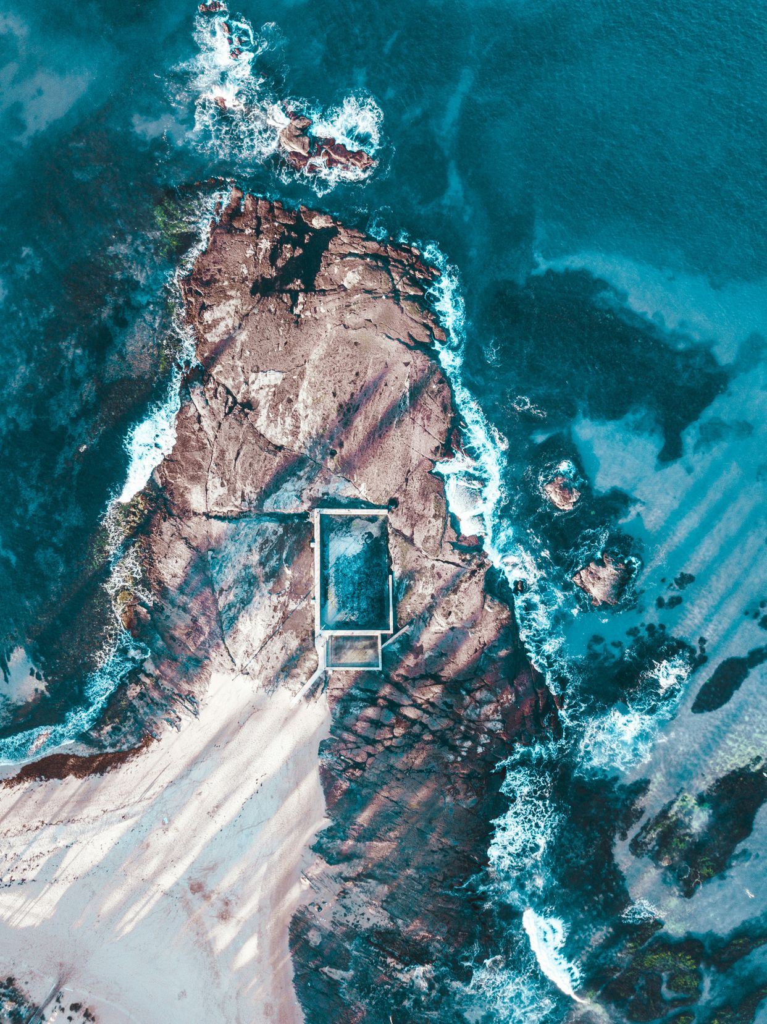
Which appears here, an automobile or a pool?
pool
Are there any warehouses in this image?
No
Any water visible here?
Yes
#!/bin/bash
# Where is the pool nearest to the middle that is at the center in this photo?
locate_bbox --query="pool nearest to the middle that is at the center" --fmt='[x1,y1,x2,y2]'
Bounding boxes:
[310,509,393,641]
